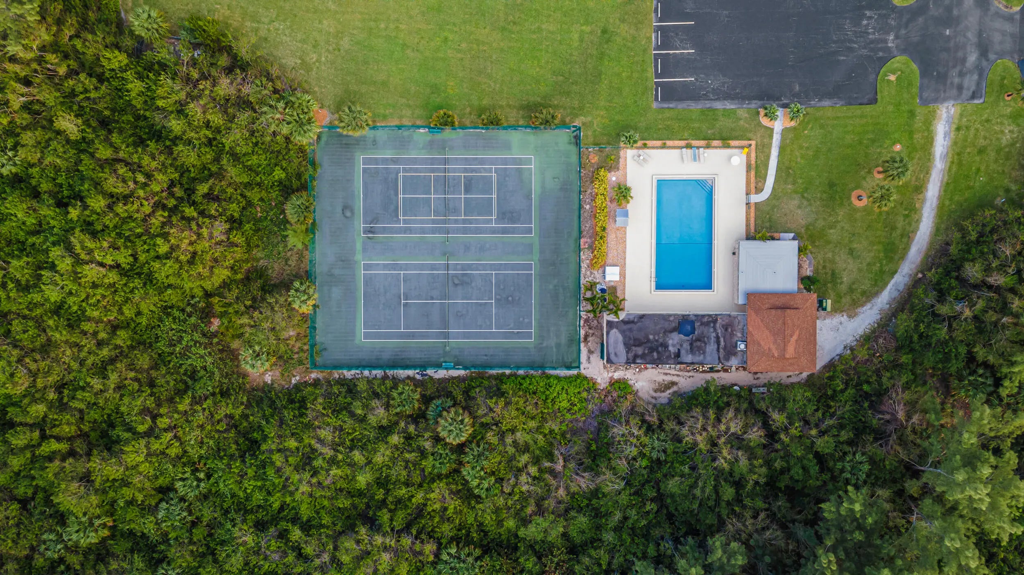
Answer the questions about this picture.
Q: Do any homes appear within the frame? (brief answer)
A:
Yes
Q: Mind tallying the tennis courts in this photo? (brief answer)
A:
2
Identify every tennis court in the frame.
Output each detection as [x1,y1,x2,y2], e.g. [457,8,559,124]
[314,129,579,249]
[315,249,579,366]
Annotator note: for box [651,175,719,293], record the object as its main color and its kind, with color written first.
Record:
blue swimming pool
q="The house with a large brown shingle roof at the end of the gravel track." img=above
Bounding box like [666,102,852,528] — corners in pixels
[741,293,817,373]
